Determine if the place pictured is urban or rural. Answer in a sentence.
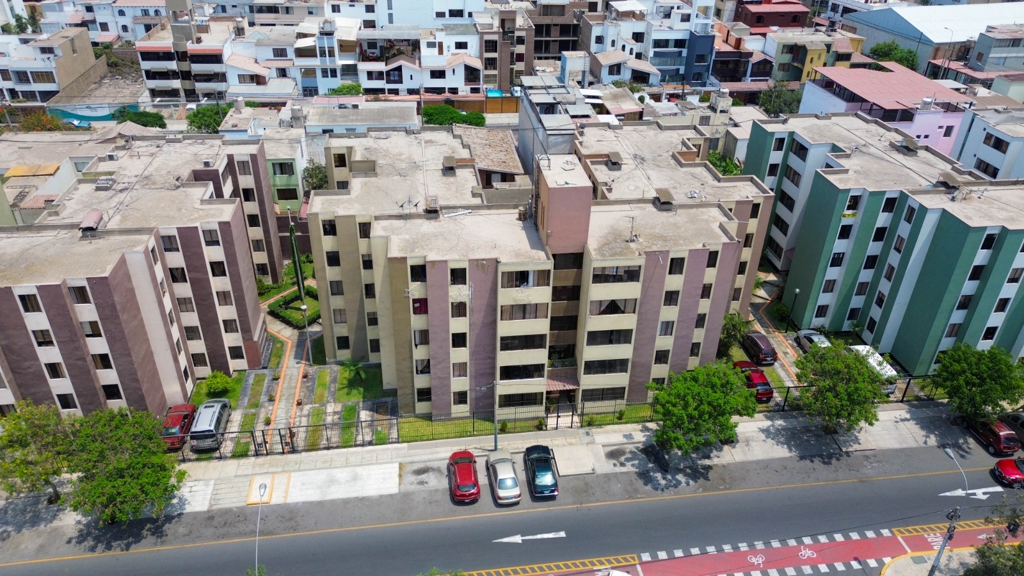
It looks urban.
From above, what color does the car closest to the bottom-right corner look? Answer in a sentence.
From above, the car closest to the bottom-right corner appears red.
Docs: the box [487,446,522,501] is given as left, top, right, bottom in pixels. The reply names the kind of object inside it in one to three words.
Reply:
car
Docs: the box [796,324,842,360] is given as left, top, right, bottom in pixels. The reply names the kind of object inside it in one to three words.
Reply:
car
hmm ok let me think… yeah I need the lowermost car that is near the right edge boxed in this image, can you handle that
[987,452,1024,487]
